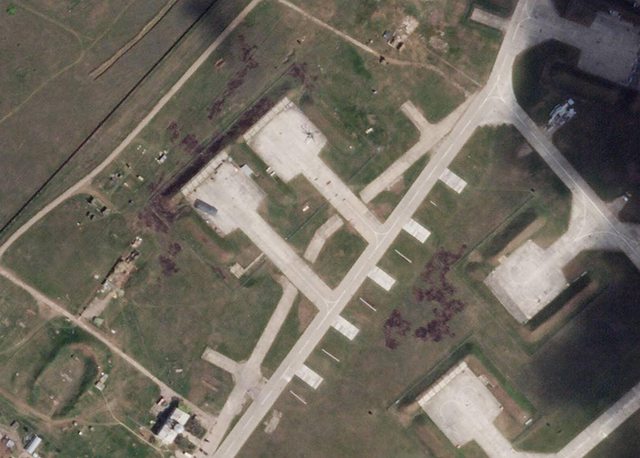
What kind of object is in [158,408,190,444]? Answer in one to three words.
building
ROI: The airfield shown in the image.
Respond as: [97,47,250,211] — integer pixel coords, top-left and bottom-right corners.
[188,0,640,458]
